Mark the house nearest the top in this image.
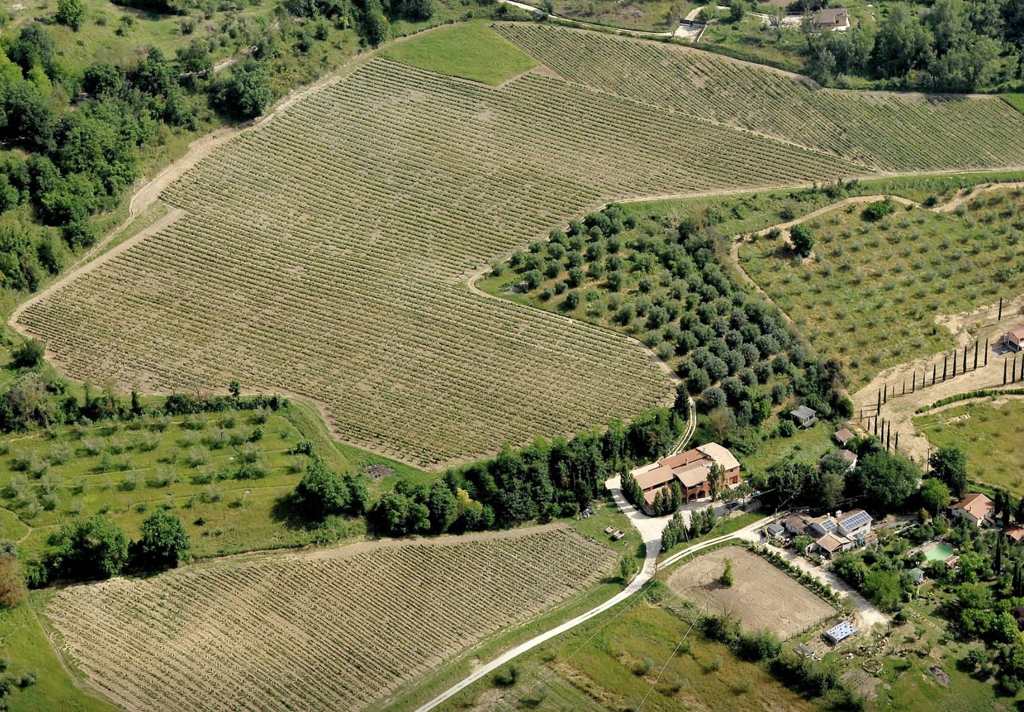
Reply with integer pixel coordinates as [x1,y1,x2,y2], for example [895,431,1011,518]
[814,11,854,35]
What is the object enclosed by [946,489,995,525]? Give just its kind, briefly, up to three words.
house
